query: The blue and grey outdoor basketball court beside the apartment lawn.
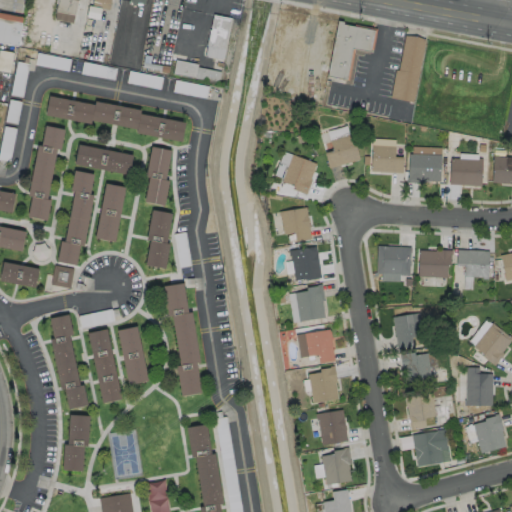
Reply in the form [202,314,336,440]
[110,430,142,480]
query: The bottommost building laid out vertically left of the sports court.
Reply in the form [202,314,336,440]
[64,415,90,472]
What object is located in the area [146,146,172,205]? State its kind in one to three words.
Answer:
building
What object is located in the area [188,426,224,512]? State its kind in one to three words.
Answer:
building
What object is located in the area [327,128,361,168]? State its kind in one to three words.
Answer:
house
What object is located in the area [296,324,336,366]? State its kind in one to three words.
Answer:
house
